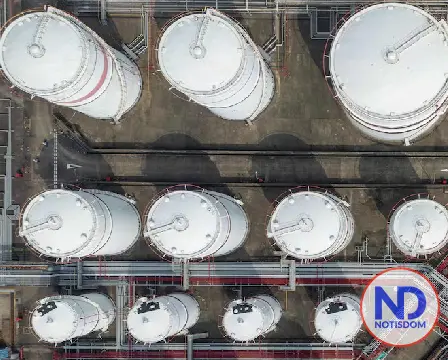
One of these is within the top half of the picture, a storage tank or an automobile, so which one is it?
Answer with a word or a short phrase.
storage tank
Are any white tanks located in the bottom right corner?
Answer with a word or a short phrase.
Yes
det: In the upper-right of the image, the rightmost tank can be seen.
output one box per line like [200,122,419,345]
[326,0,448,144]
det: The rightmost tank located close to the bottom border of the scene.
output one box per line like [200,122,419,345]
[312,290,368,348]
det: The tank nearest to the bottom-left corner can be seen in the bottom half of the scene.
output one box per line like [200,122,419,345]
[29,290,114,347]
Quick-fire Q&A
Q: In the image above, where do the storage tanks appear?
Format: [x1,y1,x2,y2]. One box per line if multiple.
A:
[326,0,448,144]
[143,187,247,262]
[16,185,140,262]
[267,187,354,263]
[385,195,448,260]
[312,290,368,348]
[0,6,147,122]
[155,8,277,123]
[218,291,282,347]
[29,290,114,347]
[124,290,199,347]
